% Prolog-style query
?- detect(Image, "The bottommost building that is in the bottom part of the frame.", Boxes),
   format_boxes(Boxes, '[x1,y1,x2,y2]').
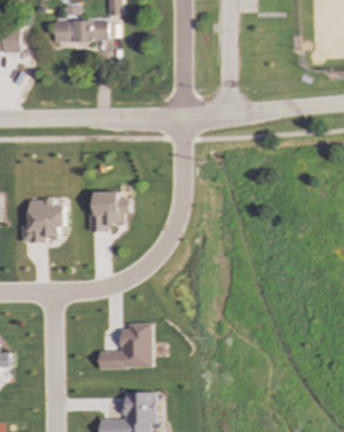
[96,392,159,432]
